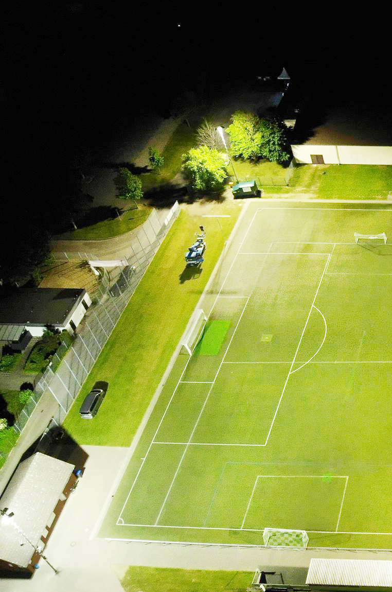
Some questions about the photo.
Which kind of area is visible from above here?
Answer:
sports ground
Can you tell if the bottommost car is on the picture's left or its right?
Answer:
left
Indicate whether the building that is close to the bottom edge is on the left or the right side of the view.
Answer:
left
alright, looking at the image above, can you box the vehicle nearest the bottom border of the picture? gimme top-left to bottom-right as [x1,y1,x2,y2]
[79,388,104,418]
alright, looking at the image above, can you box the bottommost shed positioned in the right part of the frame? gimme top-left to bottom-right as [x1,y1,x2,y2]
[230,181,264,200]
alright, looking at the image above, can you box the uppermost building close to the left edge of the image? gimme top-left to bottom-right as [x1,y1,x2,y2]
[0,287,93,340]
